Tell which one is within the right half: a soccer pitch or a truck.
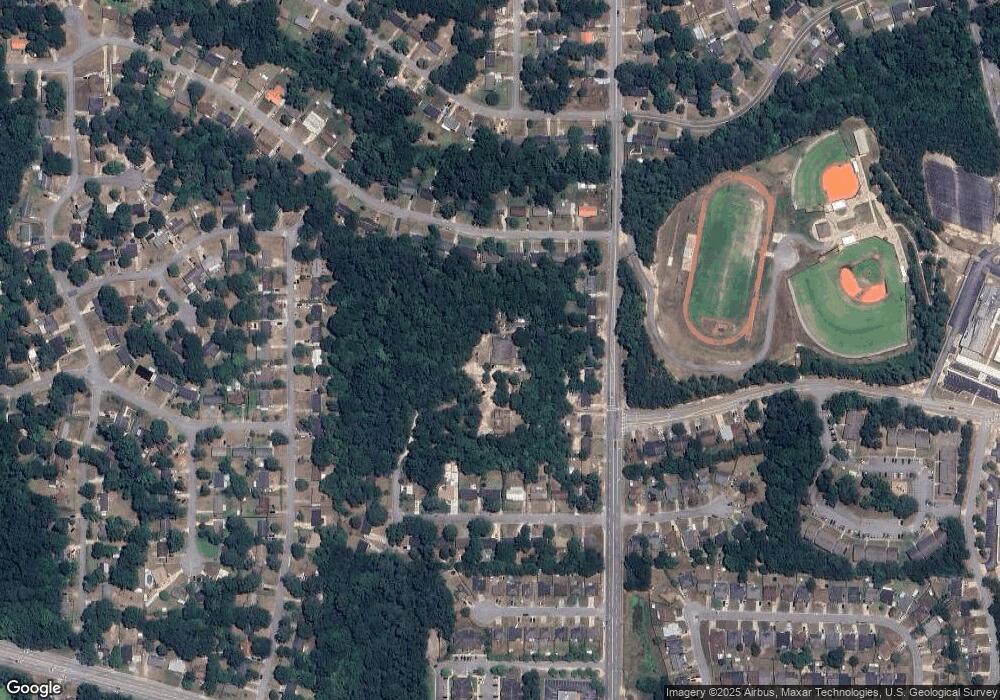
soccer pitch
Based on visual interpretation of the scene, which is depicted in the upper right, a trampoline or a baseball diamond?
baseball diamond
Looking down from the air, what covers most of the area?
trees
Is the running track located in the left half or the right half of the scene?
right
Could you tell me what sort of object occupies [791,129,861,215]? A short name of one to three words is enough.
baseball field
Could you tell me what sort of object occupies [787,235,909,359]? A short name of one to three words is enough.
baseball field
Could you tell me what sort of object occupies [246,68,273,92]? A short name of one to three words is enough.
house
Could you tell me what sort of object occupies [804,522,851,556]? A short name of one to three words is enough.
building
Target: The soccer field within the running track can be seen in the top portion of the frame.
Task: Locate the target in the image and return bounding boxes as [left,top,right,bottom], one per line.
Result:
[692,180,763,314]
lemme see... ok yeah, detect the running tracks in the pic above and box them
[683,172,772,346]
